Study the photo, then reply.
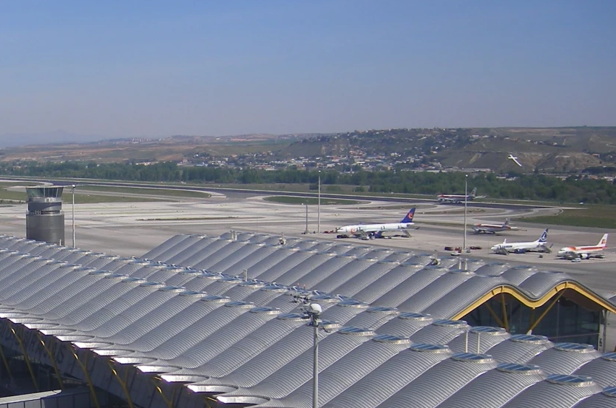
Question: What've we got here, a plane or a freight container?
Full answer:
Looking from above, you can make out a plane.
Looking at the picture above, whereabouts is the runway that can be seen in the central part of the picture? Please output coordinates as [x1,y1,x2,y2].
[0,180,572,210]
